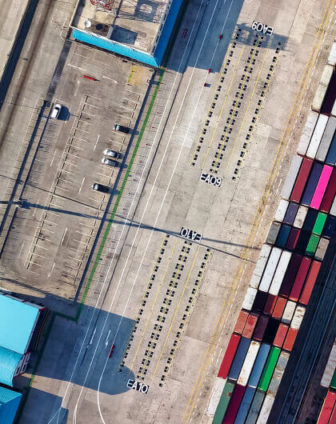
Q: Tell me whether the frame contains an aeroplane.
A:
No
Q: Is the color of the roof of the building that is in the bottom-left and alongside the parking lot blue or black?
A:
blue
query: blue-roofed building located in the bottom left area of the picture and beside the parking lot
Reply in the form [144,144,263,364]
[0,281,56,383]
